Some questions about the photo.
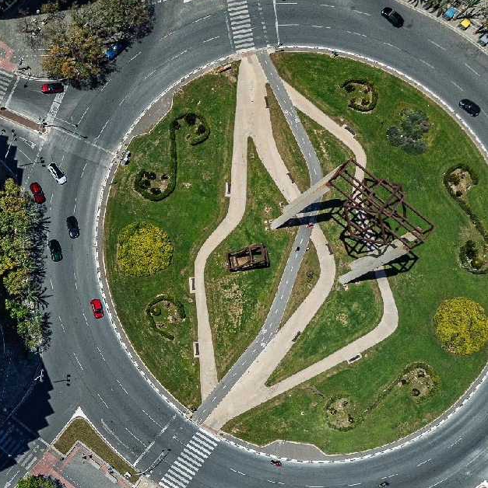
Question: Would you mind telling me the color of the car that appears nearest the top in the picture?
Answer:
black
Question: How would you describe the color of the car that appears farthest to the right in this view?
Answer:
black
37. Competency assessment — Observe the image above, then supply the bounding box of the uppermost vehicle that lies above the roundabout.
[382,5,406,26]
